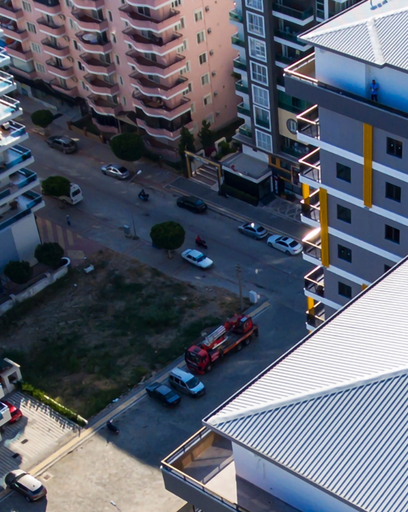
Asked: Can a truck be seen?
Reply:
Yes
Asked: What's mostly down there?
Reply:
buildings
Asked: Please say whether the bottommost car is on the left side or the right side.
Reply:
left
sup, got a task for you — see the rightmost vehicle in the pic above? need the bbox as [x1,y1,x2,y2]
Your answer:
[266,234,302,255]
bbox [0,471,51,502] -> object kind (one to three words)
car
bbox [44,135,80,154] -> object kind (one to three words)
car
